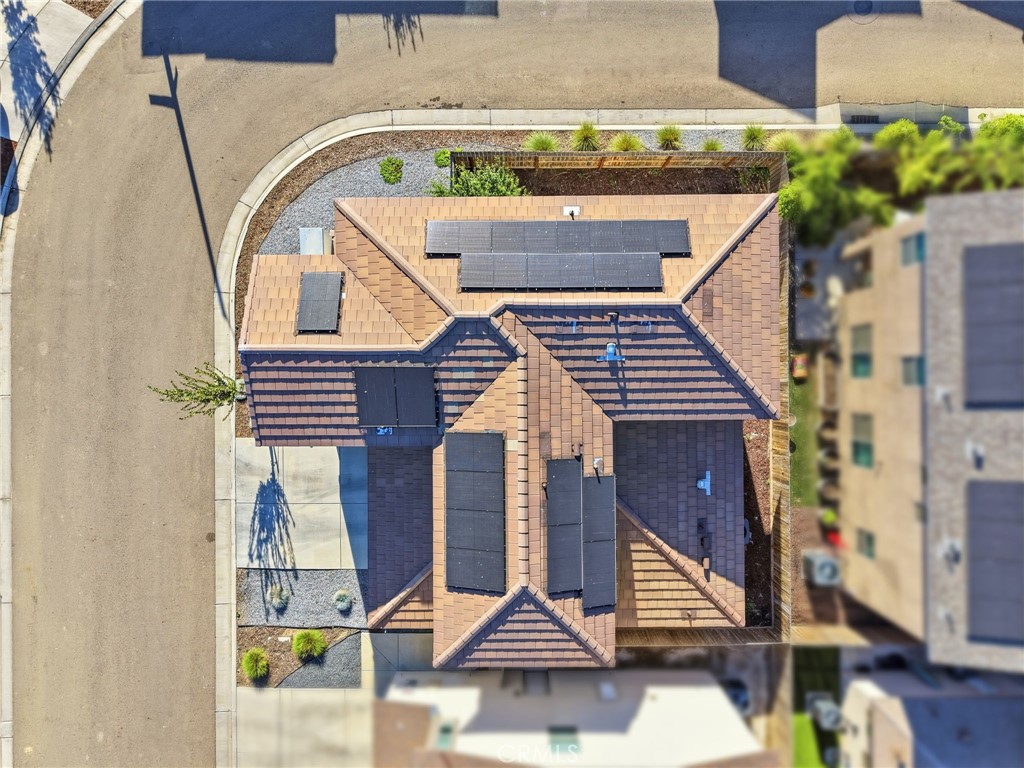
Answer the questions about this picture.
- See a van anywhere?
No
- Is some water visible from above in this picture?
No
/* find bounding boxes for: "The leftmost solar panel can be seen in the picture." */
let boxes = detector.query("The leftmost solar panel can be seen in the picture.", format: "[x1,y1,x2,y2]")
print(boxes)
[295,273,344,331]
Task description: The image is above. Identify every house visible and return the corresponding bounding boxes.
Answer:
[812,189,1024,673]
[371,673,768,768]
[239,193,782,671]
